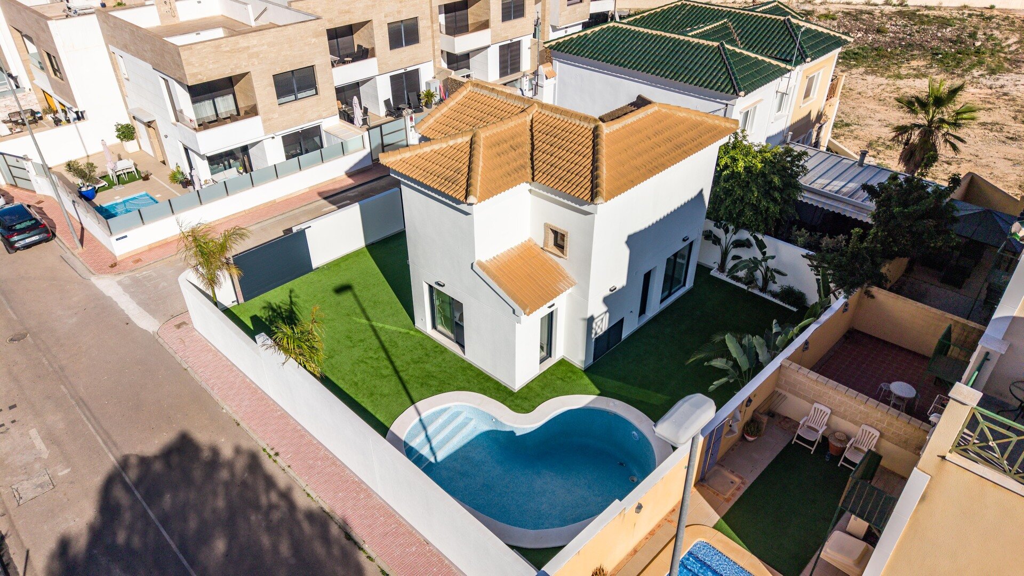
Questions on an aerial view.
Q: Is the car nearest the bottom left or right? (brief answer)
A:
left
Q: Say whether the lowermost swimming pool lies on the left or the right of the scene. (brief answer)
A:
right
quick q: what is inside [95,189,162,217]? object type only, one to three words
swimming pool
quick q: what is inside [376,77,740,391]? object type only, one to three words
house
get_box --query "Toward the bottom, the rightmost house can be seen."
[859,197,1024,576]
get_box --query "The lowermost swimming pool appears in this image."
[673,524,776,576]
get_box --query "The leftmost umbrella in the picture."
[98,140,127,191]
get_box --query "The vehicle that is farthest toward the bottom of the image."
[0,197,50,252]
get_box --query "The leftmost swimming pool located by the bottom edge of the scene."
[387,392,670,549]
